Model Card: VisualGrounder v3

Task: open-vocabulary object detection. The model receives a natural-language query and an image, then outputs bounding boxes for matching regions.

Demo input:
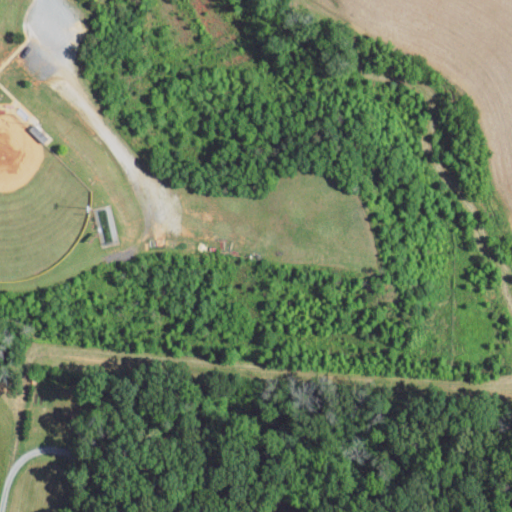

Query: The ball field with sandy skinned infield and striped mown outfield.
[0,110,92,283]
